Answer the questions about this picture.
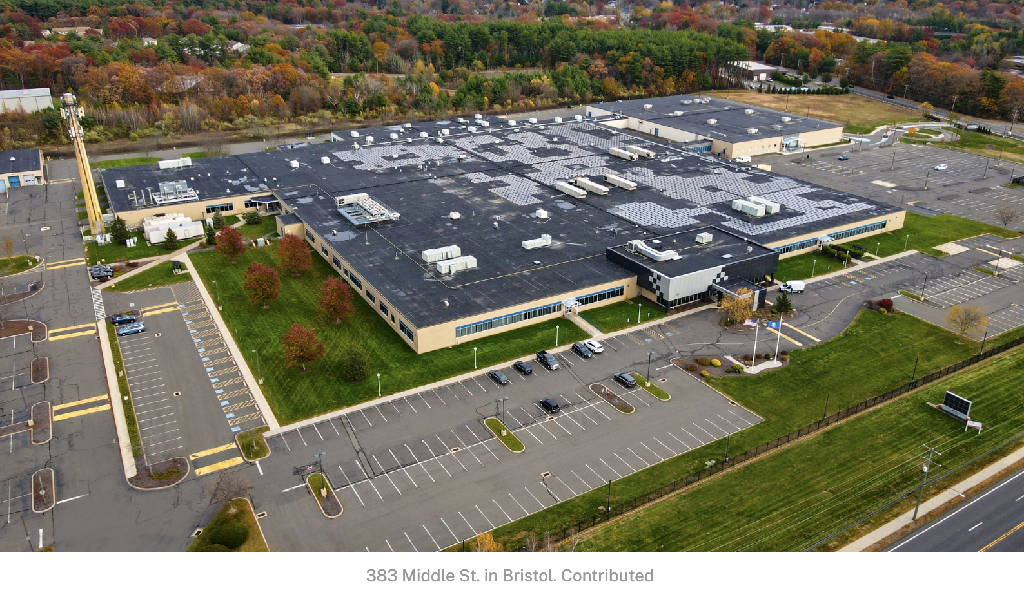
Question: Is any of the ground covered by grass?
Yes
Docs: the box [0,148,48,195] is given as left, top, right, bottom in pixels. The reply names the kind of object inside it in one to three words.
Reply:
building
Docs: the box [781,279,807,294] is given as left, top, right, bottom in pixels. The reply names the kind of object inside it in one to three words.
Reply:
vehicle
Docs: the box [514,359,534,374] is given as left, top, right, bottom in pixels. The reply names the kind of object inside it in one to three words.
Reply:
car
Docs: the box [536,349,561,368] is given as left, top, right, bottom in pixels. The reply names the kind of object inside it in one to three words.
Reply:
vehicle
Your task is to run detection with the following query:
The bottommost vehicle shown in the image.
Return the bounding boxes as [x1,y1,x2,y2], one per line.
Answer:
[540,396,561,412]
